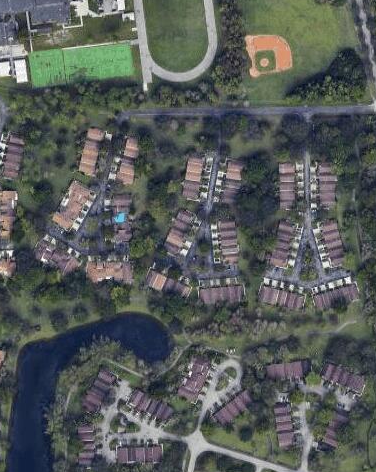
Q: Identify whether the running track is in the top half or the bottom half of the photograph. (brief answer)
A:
top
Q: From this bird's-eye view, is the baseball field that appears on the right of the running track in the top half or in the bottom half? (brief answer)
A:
top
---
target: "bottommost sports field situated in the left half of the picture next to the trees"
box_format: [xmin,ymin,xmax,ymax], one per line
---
[29,44,134,88]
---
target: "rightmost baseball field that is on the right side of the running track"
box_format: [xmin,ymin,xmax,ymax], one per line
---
[244,34,293,78]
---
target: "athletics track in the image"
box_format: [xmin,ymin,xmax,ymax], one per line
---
[135,0,217,82]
